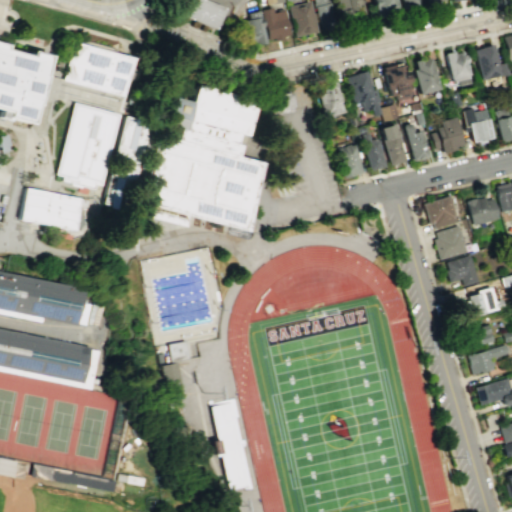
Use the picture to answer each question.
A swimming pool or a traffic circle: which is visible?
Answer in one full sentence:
Of the two, only a swimming pool appears.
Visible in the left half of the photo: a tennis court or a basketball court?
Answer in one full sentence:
The feature located in the left half of the photo is a tennis court.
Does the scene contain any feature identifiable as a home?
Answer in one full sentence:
Yes, the photo shows a home.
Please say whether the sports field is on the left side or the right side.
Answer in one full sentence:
The sports field sits on the right side.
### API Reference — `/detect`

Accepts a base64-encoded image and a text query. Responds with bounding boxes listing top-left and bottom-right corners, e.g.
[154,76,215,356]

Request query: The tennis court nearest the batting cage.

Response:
[75,406,108,461]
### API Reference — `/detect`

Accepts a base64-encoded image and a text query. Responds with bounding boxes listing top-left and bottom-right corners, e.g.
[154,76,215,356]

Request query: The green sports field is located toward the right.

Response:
[250,294,430,512]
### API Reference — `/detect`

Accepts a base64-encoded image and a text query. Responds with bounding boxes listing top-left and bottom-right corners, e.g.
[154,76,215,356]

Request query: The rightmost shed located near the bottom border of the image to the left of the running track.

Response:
[52,472,115,492]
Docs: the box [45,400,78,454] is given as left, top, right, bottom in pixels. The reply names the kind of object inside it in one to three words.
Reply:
tennis court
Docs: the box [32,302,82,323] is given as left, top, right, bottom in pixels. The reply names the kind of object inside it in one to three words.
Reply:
solar array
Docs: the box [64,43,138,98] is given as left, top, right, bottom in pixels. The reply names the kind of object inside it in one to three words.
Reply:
building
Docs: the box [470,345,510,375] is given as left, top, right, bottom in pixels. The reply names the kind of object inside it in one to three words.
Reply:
house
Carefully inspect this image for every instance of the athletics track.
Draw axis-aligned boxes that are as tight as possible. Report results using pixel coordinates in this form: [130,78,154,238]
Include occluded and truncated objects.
[227,245,453,512]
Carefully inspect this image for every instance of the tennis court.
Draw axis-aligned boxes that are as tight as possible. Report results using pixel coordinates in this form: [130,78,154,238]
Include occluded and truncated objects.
[75,406,108,461]
[15,394,48,448]
[0,388,18,442]
[45,400,78,454]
